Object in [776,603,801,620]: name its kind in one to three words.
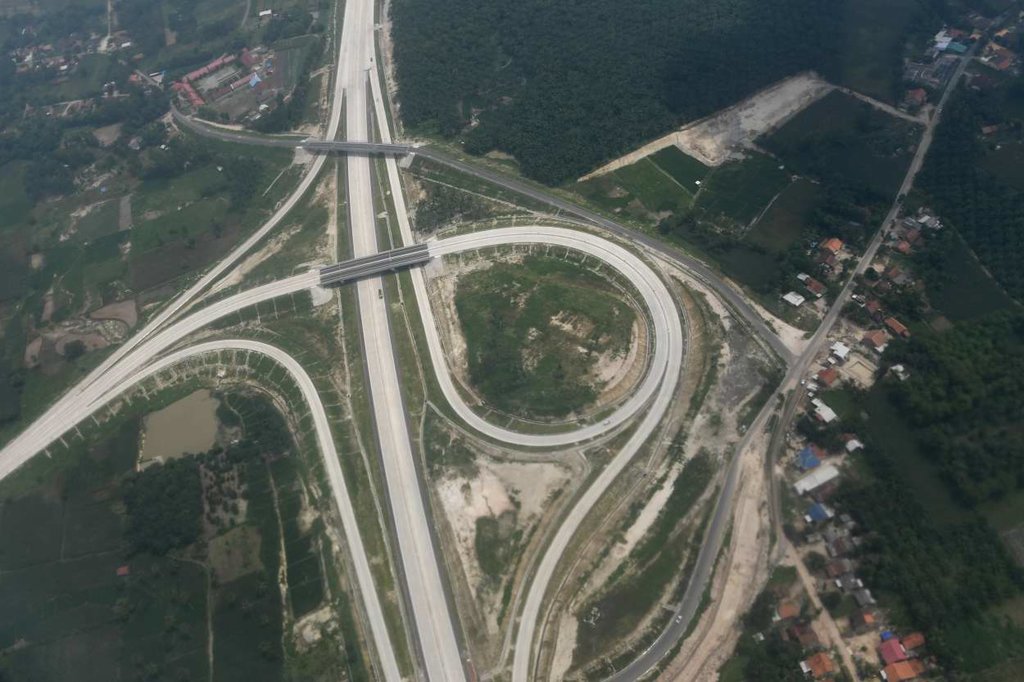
house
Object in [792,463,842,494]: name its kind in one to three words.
building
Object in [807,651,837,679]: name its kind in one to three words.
house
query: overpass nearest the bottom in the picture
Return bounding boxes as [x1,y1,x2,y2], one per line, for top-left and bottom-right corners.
[313,242,438,287]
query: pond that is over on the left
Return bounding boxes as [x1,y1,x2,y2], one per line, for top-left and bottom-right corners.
[139,388,219,467]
